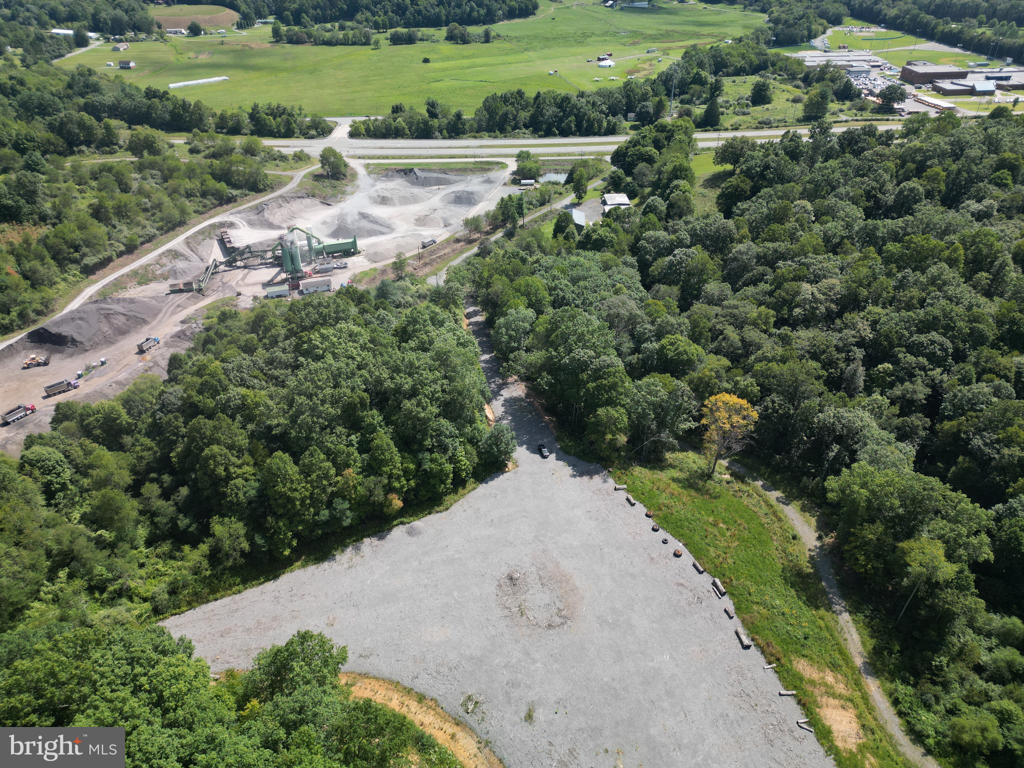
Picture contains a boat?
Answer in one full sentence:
No, no boat is visible in the view.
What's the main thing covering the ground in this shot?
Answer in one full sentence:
For the most part, this view shows trees.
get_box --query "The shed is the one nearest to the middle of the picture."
[534,209,587,236]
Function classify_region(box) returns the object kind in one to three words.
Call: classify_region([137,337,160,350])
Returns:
vehicle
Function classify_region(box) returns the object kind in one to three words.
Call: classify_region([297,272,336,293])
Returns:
building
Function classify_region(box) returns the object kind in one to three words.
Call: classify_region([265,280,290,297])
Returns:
shed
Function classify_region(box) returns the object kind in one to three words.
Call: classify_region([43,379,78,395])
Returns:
vehicle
